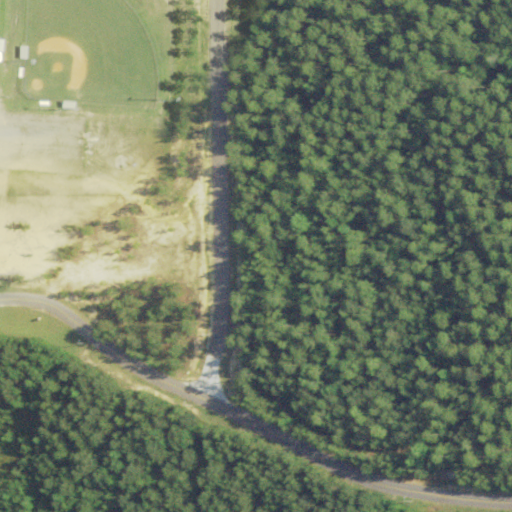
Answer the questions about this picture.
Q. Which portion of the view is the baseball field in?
top left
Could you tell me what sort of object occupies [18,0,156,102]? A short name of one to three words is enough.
baseball field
